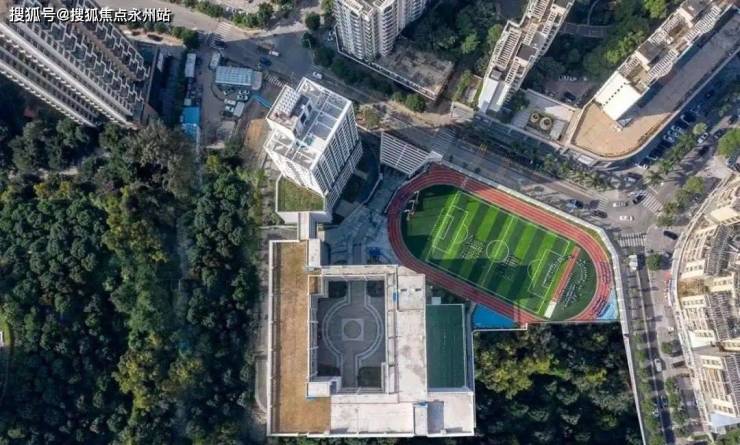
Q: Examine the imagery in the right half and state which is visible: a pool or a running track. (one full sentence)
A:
The one visible in the right half is a running track.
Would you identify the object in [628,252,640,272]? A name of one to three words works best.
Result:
vehicle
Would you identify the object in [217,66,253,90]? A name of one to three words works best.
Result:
shed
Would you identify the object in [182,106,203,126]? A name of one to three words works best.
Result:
shed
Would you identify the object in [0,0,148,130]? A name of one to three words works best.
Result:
building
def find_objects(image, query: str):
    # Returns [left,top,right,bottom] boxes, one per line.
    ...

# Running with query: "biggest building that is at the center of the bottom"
[269,238,475,436]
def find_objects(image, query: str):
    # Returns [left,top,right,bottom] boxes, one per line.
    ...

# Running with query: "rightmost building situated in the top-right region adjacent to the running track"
[568,0,740,162]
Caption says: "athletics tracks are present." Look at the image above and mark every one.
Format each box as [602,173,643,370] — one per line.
[386,170,614,321]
